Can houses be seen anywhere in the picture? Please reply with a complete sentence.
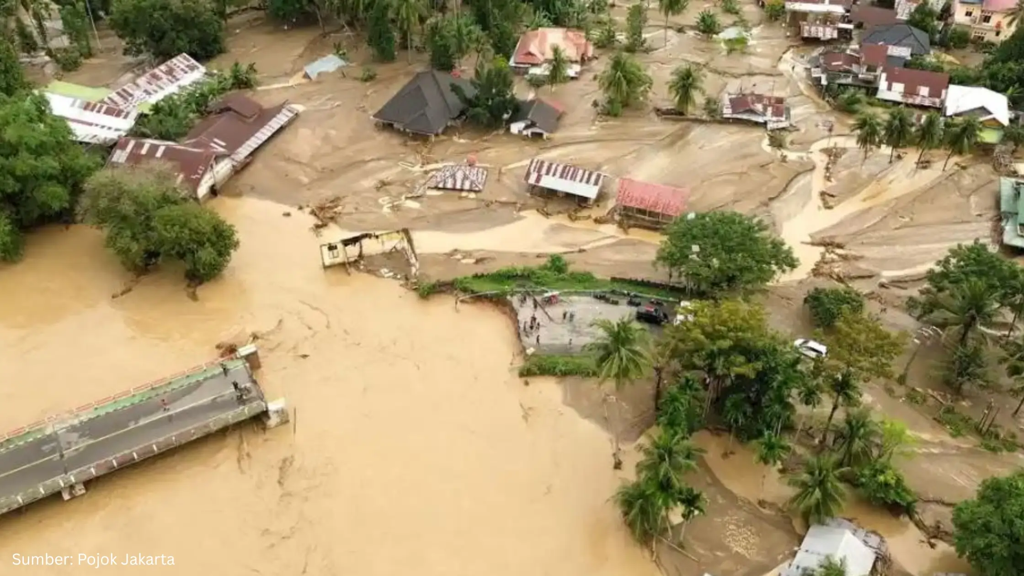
Yes, the picture does show a house.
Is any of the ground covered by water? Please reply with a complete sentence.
Yes, water shows up in the scene.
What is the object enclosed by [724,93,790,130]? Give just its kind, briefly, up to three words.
house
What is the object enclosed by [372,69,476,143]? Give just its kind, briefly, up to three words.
house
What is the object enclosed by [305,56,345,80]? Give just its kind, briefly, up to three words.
shed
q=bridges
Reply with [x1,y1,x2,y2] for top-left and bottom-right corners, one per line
[0,345,285,511]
